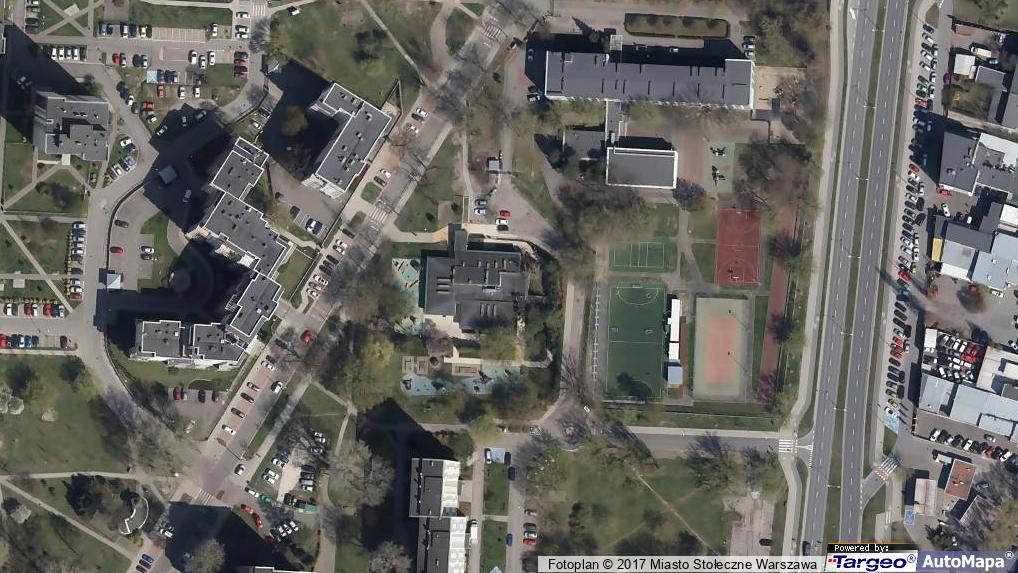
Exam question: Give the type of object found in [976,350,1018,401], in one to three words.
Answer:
building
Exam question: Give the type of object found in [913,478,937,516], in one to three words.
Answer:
shed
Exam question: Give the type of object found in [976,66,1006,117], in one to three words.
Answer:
house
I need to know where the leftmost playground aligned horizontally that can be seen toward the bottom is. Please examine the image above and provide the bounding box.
[402,372,453,396]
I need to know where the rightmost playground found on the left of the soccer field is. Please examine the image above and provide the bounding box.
[458,364,520,394]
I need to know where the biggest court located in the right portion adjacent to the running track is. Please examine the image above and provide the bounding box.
[693,297,748,398]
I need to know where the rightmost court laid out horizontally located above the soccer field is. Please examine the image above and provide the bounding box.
[609,241,677,271]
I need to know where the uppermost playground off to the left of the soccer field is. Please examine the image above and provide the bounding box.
[391,258,424,337]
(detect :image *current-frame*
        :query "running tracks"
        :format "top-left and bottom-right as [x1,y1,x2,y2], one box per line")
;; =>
[757,204,800,402]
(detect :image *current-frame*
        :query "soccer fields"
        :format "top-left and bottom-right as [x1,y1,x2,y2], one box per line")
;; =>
[603,283,667,402]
